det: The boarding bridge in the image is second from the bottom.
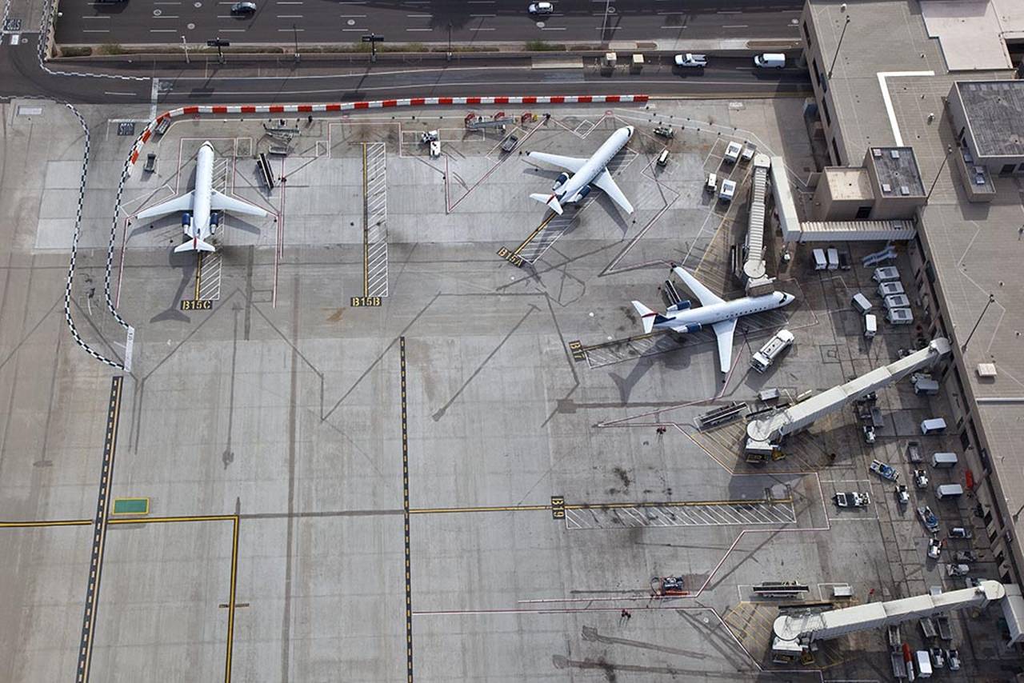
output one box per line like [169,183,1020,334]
[742,342,949,464]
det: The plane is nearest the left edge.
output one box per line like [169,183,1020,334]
[133,142,268,254]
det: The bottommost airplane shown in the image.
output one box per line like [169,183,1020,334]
[632,265,794,374]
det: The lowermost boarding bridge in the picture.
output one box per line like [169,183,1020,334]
[768,578,1007,665]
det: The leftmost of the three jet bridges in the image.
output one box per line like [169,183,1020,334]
[729,156,773,300]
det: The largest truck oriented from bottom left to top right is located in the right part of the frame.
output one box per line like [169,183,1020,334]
[748,334,793,375]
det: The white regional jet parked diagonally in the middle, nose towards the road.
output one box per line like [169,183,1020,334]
[528,127,640,217]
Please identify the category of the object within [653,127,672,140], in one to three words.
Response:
vehicle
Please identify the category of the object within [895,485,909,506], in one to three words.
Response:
work vehicle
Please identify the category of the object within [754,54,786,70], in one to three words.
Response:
vehicle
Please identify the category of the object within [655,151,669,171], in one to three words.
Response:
work vehicle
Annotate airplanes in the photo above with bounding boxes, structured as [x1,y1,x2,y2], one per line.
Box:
[632,265,794,374]
[133,142,268,254]
[528,127,640,217]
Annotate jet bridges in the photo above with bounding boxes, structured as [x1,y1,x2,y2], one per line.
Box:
[768,578,1007,665]
[742,342,949,464]
[729,156,773,300]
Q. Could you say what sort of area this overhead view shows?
airport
